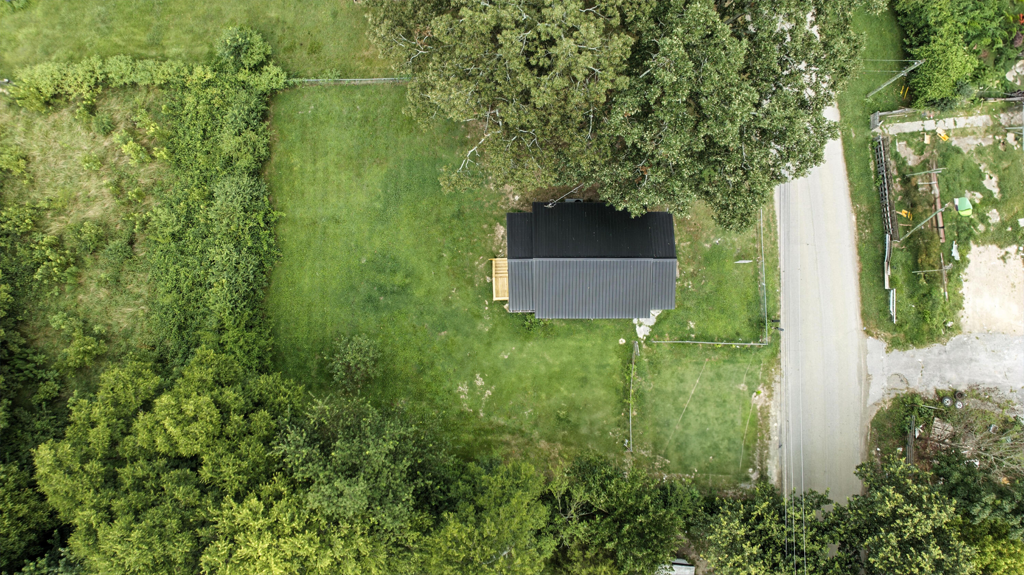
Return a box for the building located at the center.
[488,199,677,319]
